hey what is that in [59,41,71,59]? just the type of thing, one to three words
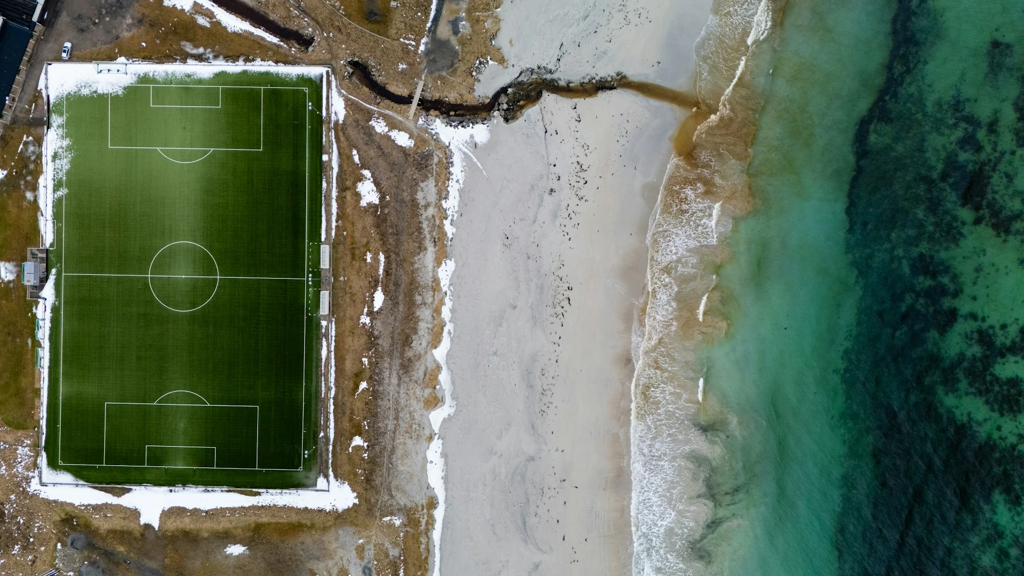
vehicle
